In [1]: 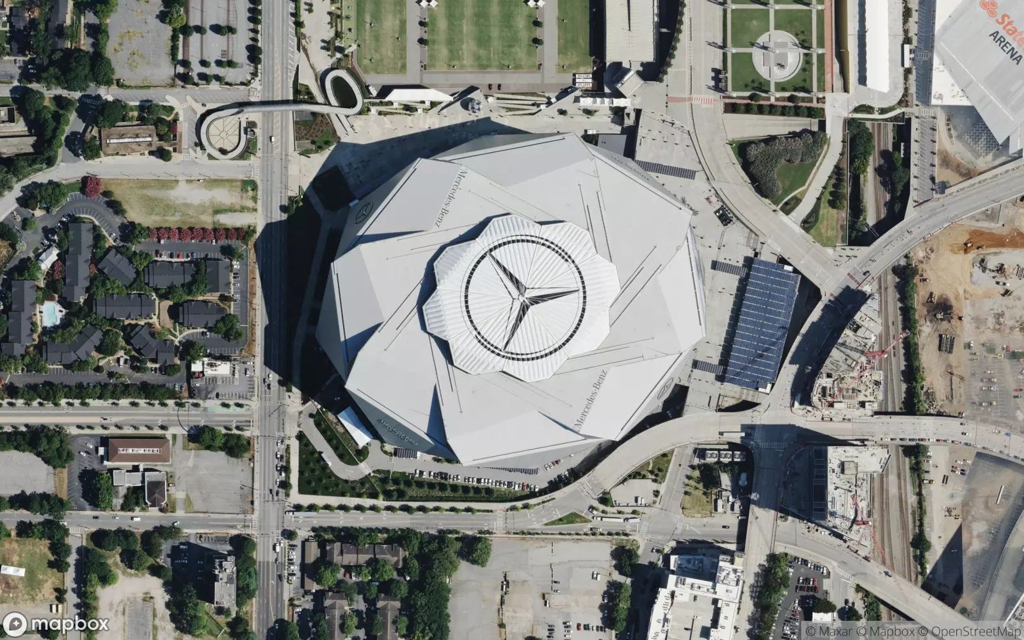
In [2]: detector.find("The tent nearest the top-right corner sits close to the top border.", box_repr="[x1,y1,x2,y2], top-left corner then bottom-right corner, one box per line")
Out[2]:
[864,0,888,93]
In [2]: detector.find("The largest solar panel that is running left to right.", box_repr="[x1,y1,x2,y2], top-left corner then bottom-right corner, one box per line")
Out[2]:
[638,160,696,179]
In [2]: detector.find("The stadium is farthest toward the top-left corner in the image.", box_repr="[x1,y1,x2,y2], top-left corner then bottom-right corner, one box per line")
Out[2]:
[315,133,705,471]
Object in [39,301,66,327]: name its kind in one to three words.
swimming pool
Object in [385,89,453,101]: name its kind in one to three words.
building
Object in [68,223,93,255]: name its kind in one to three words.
building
